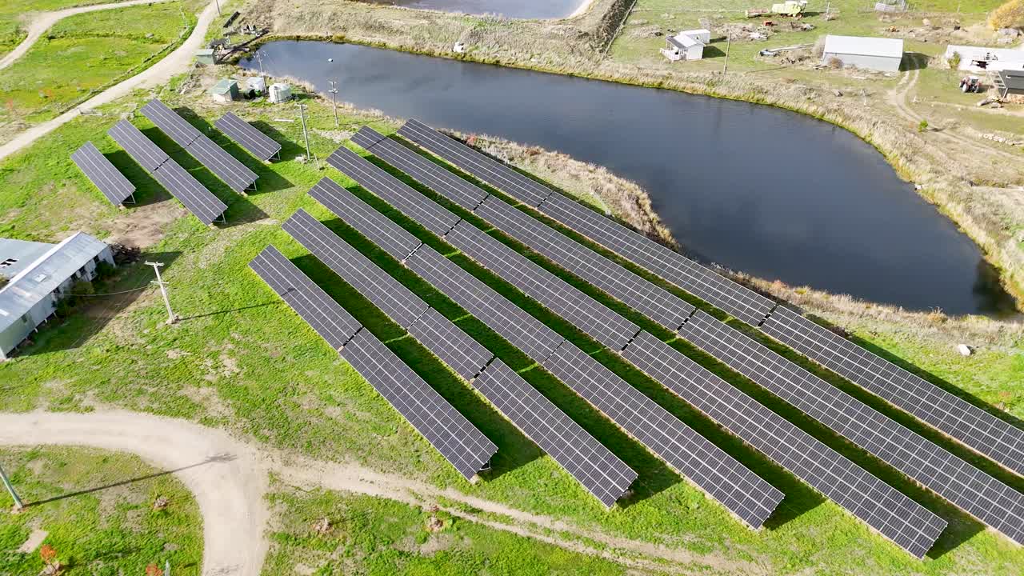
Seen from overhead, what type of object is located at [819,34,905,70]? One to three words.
shed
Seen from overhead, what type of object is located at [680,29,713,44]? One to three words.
shed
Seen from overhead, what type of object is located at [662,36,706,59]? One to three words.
building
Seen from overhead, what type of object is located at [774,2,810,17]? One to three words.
work vehicle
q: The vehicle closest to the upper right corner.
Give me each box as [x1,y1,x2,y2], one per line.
[963,76,982,91]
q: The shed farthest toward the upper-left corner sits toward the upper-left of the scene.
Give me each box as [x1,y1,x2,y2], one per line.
[194,49,220,64]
